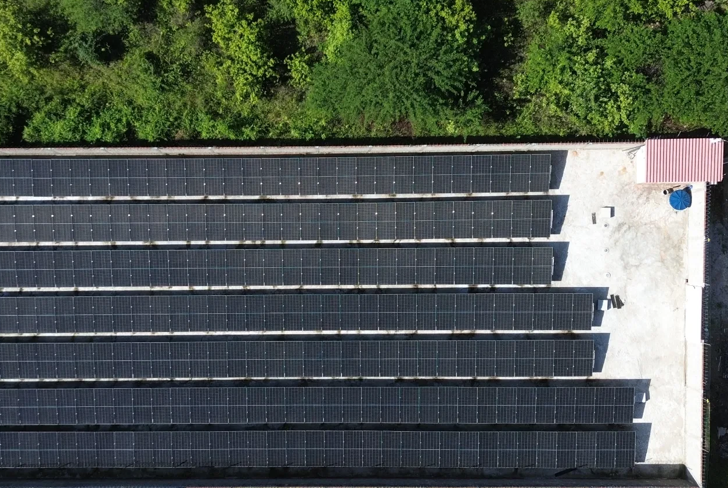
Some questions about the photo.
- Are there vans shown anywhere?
No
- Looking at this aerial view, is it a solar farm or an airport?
solar farm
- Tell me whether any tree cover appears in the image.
Yes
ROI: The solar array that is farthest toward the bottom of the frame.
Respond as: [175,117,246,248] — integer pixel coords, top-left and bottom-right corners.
[0,432,636,469]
